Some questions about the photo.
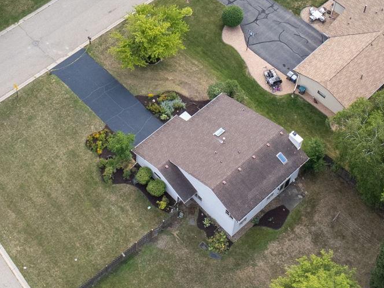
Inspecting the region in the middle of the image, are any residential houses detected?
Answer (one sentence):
Yes, a residential house can be seen in the middle of the image.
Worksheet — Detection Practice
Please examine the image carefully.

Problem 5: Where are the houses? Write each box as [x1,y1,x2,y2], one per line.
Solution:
[293,0,384,121]
[132,94,310,236]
